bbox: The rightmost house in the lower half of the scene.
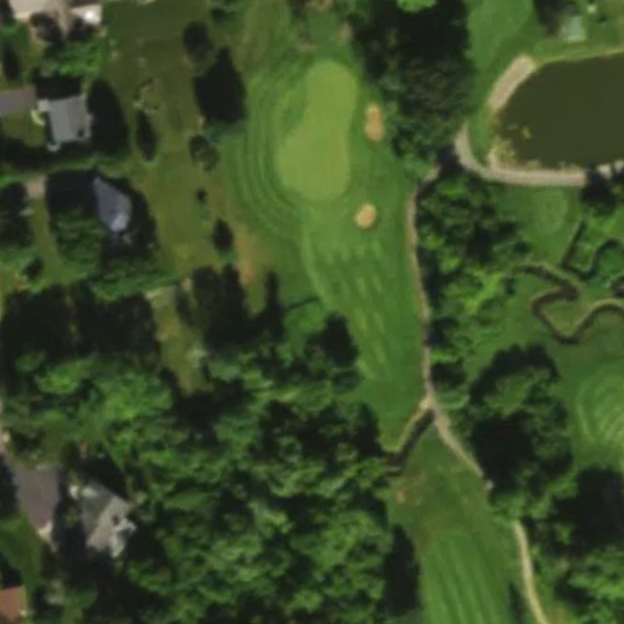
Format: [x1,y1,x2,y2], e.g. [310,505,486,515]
[73,483,143,557]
